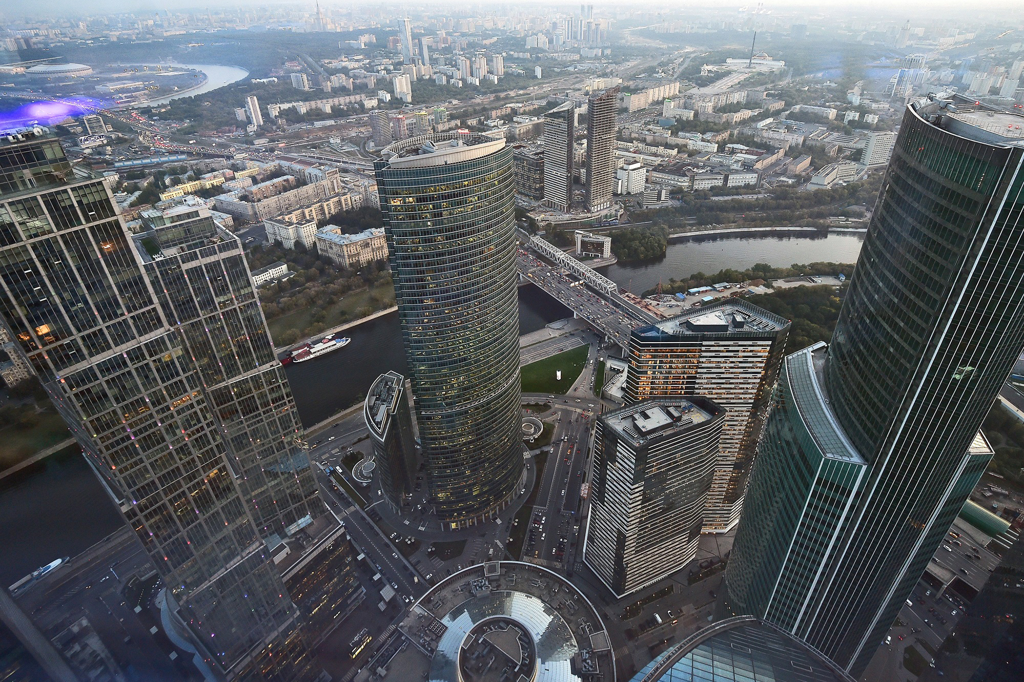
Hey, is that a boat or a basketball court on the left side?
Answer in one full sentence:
The feature located on the left side is a boat.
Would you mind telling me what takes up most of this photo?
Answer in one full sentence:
For the most part, this view shows buildings.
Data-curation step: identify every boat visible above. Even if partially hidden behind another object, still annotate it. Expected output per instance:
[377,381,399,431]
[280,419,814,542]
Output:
[33,555,70,580]
[292,336,351,363]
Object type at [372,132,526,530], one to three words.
building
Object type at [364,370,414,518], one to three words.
building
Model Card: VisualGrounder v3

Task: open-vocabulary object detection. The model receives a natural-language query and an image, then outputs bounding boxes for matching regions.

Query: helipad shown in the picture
[942,106,1024,146]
